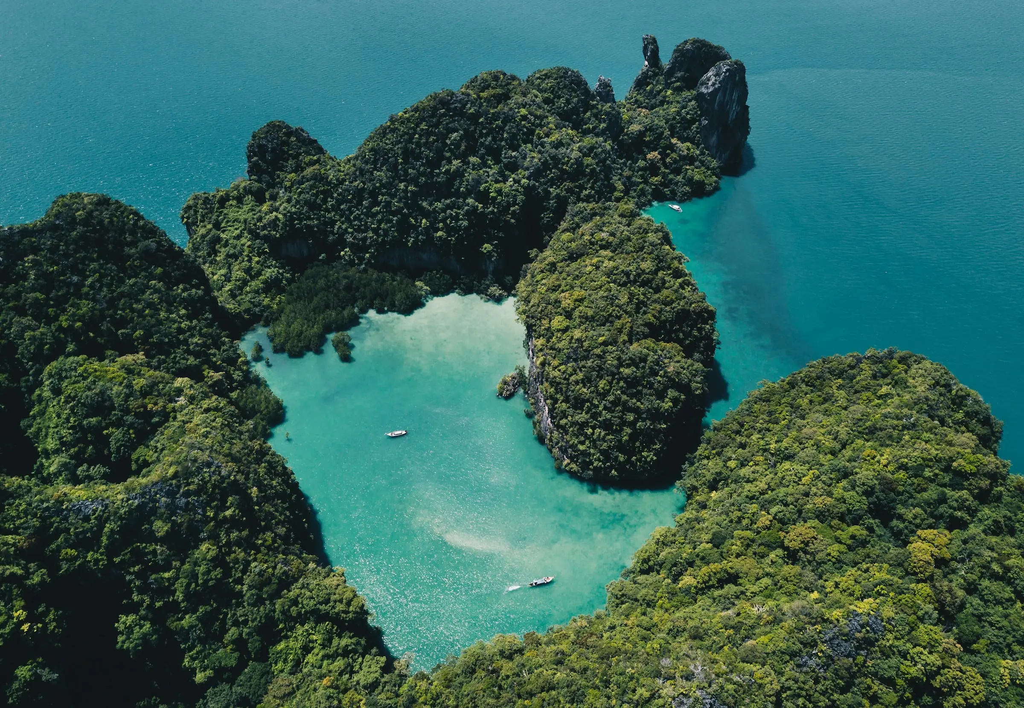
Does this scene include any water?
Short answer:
Yes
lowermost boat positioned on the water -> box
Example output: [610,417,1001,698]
[526,573,555,588]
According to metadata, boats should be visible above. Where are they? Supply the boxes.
[383,429,407,436]
[526,573,555,588]
[670,204,683,212]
